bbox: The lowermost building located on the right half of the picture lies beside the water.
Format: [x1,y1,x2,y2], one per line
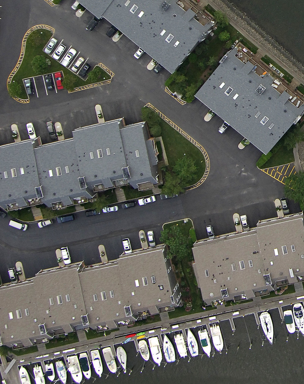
[192,216,304,308]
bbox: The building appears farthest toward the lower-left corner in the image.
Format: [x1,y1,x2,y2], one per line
[0,245,178,351]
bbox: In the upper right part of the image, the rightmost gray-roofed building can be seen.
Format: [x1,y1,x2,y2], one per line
[194,46,304,154]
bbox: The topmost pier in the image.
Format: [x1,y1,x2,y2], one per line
[133,297,304,341]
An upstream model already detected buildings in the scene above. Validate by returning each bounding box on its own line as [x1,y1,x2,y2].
[0,245,178,351]
[192,216,304,308]
[194,46,304,154]
[77,0,215,74]
[0,121,162,212]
